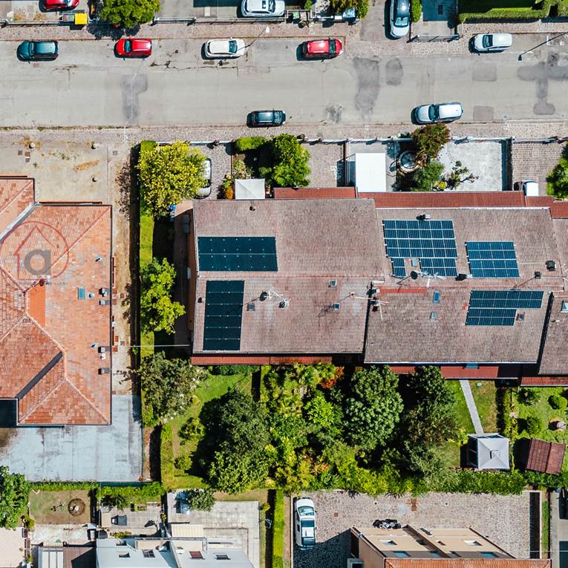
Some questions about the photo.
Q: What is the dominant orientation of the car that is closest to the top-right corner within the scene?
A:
from side to side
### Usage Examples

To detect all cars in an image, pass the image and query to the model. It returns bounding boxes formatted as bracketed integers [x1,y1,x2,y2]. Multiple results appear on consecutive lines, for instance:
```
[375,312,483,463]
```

[42,0,79,12]
[116,37,152,58]
[523,180,545,206]
[204,37,246,59]
[412,102,463,124]
[248,108,284,128]
[19,38,59,60]
[294,498,319,546]
[301,37,341,59]
[469,31,512,52]
[387,0,412,38]
[240,0,283,17]
[195,155,216,198]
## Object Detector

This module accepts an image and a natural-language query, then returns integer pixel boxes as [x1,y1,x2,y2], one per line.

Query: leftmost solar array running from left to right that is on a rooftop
[197,236,279,270]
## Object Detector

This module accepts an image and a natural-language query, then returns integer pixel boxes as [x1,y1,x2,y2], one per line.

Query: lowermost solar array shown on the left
[203,282,245,351]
